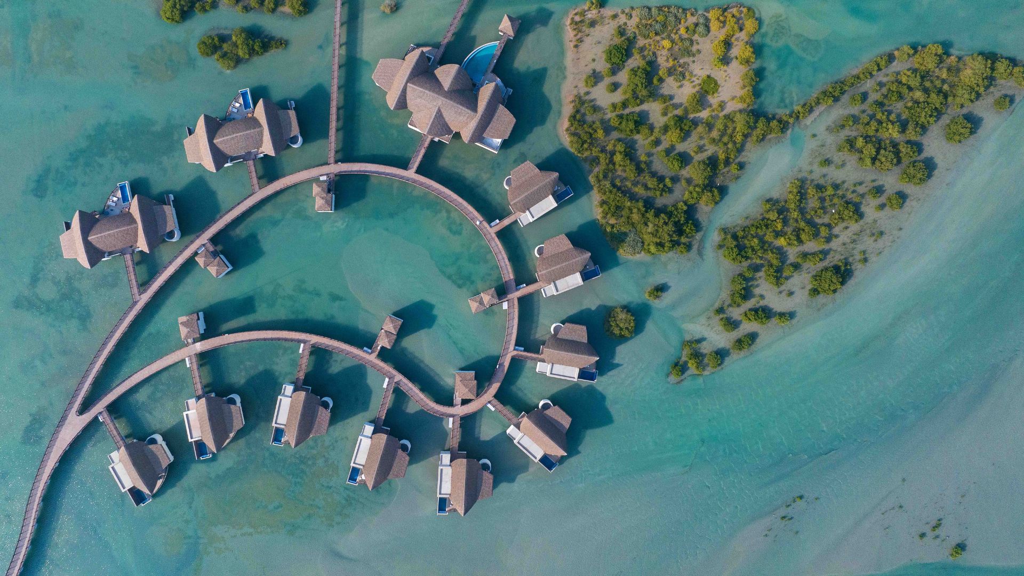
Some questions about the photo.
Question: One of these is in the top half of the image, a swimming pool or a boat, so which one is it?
swimming pool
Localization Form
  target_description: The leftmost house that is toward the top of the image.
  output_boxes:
[62,186,183,268]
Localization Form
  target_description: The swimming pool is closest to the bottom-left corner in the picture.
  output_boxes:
[131,485,153,506]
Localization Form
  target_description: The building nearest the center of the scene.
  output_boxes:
[468,288,498,313]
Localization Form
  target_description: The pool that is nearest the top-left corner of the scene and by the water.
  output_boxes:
[118,182,134,205]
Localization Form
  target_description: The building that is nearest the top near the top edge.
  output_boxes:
[499,14,521,42]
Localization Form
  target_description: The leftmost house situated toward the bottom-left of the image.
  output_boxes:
[108,433,179,508]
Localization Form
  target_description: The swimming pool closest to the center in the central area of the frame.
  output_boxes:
[581,266,603,284]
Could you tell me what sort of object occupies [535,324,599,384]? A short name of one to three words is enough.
house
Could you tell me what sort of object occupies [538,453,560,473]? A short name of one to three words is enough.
swimming pool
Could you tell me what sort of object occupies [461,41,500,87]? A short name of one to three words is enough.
swimming pool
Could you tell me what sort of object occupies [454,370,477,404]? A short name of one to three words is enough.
building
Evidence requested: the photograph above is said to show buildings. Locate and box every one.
[504,164,577,229]
[346,420,412,489]
[178,312,207,341]
[270,380,334,447]
[185,391,249,459]
[62,186,183,268]
[534,236,604,299]
[195,249,235,278]
[468,288,498,313]
[378,314,404,349]
[454,370,477,404]
[506,400,571,475]
[372,35,516,155]
[185,92,304,172]
[108,433,179,508]
[437,448,493,515]
[313,182,336,212]
[535,324,599,384]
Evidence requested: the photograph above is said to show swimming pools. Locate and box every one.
[461,41,500,87]
[273,425,286,445]
[538,453,560,473]
[438,495,450,513]
[581,266,603,284]
[554,187,575,206]
[118,182,134,205]
[578,370,599,382]
[239,89,255,111]
[196,437,213,458]
[349,464,363,484]
[131,485,153,506]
